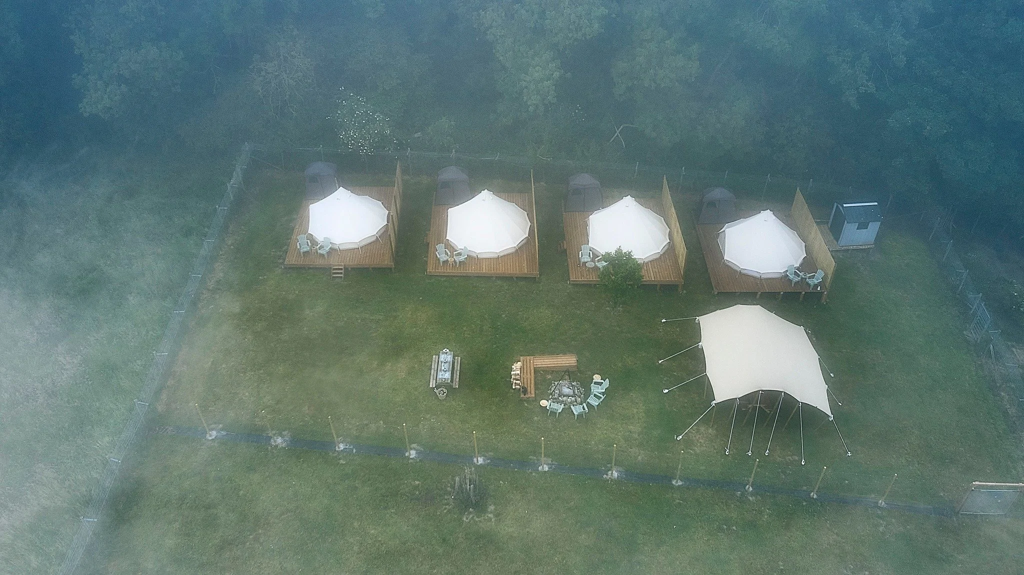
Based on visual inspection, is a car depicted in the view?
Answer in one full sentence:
No, there isn't any car down there.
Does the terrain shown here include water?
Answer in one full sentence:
No, the scene doesn't show any water.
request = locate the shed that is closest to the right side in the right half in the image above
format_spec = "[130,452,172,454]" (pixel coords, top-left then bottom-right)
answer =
[826,198,885,246]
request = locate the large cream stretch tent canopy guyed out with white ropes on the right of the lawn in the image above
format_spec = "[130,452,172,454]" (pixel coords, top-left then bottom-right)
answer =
[658,305,852,465]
